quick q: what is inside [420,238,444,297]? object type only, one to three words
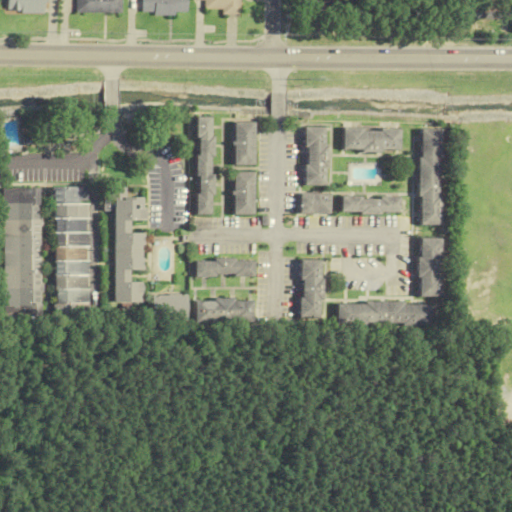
building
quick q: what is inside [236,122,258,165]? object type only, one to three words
building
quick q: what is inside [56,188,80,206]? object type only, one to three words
house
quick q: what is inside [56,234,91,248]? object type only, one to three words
house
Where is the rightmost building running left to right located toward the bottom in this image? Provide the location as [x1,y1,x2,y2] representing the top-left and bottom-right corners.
[339,301,428,324]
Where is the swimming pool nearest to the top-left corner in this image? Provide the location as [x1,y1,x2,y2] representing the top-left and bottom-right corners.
[5,120,18,143]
